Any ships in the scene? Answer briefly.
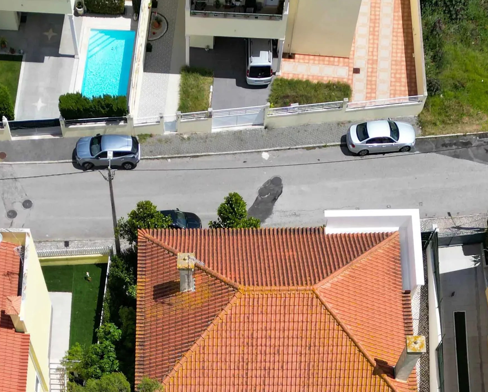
No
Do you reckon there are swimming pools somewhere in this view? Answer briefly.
Yes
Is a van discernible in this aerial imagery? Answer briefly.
Yes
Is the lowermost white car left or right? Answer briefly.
right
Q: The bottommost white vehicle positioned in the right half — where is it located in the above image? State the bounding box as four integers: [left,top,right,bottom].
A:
[345,122,417,157]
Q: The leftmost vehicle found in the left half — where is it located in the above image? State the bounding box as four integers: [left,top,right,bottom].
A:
[73,135,141,171]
